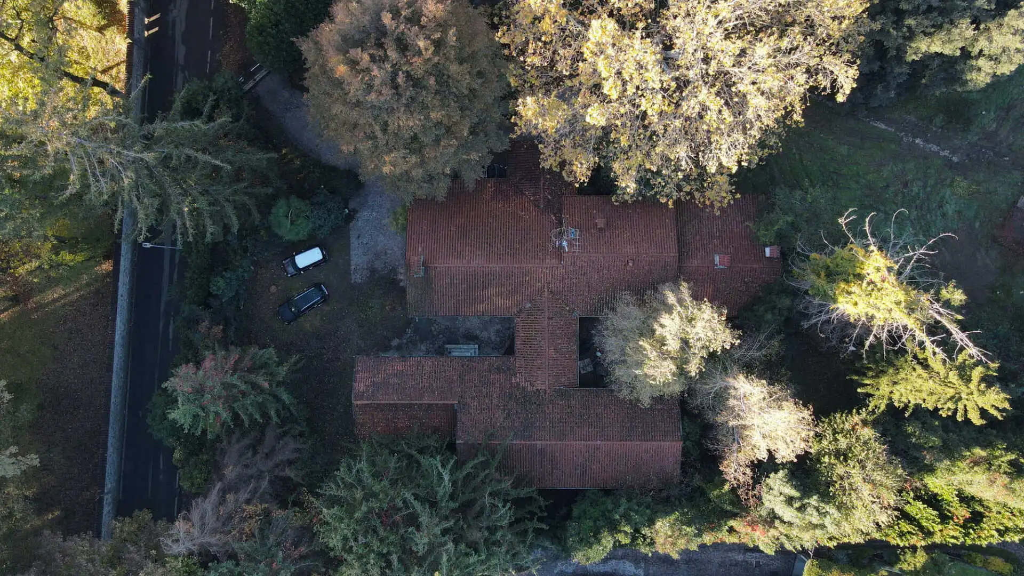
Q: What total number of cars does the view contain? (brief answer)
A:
2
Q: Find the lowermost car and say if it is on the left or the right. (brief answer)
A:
left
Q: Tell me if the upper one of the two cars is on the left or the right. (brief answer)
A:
left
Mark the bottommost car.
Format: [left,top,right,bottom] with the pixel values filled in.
[275,281,333,324]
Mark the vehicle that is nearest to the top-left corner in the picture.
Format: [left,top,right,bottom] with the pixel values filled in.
[282,243,329,276]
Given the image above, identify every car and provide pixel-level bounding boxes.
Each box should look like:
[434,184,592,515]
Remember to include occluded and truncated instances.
[282,243,329,276]
[275,281,333,324]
